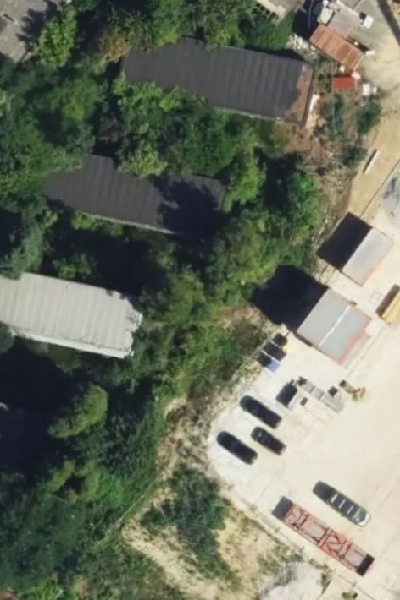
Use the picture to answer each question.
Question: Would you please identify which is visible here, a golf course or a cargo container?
cargo container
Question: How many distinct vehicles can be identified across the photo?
4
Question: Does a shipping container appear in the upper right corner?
Yes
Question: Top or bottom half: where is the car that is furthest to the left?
bottom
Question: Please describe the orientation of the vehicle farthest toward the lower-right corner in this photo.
at an angle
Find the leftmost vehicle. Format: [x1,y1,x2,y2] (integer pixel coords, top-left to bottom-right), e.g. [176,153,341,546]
[219,432,258,465]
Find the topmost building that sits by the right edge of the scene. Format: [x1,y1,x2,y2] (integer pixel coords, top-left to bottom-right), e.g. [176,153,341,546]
[342,228,393,286]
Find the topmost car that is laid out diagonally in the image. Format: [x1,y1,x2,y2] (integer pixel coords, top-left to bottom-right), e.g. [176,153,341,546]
[243,397,283,429]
